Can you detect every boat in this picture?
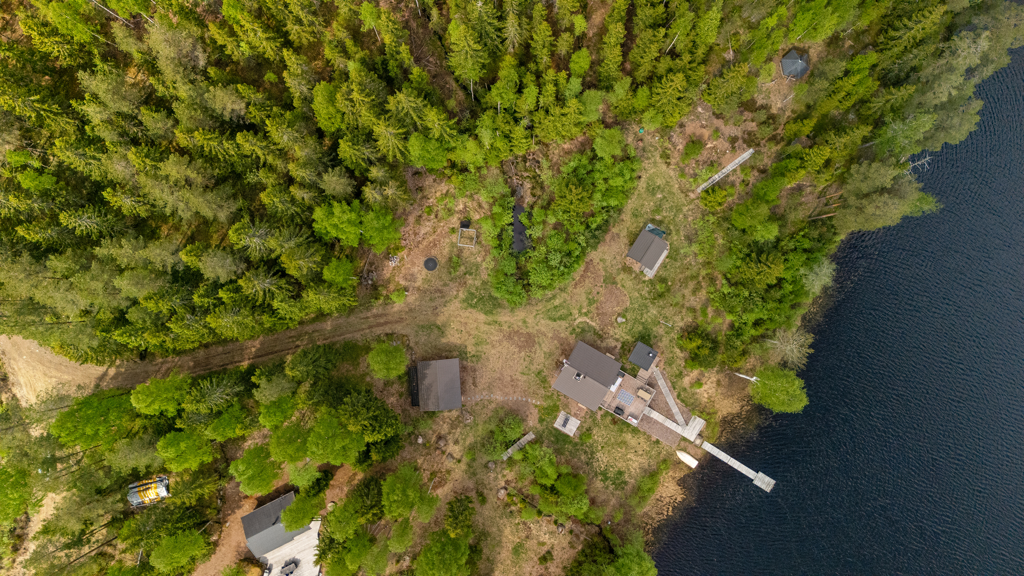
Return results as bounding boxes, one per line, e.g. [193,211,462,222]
[676,450,698,468]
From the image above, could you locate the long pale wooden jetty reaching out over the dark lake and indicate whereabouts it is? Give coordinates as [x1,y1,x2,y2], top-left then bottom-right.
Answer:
[701,441,776,492]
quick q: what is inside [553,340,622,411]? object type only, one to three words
building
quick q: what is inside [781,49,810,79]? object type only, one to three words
shed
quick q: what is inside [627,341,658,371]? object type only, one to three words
shed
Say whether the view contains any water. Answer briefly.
Yes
